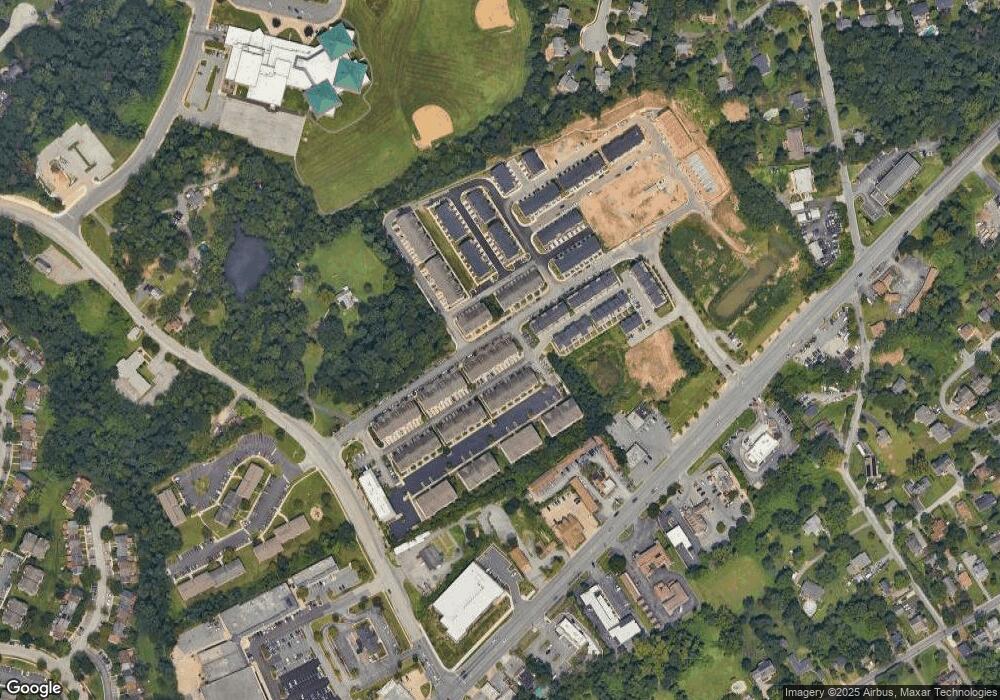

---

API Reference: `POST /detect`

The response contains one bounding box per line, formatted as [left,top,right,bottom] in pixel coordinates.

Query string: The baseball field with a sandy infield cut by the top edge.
[475,0,519,33]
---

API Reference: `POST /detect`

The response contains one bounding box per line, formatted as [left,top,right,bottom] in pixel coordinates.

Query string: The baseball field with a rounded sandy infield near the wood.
[412,104,453,151]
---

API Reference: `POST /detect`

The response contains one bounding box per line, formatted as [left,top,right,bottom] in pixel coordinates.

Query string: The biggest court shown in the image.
[220,97,306,155]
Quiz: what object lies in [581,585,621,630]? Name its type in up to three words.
building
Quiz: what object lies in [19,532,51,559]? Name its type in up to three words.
house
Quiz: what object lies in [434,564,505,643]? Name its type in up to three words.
building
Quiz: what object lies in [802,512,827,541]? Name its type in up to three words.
house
